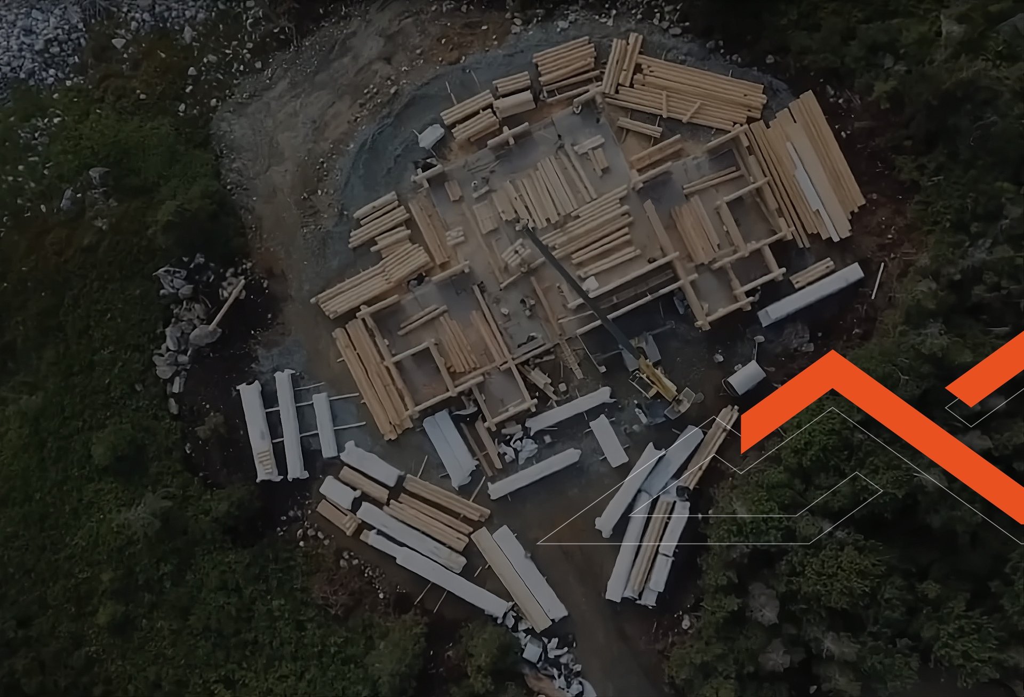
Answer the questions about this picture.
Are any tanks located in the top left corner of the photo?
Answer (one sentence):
No, I can find no tank in the top left corner of the photo.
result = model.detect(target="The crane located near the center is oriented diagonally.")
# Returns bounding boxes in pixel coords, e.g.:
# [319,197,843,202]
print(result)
[511,213,696,420]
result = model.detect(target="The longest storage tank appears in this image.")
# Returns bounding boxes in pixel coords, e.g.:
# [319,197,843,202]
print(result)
[723,359,768,399]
